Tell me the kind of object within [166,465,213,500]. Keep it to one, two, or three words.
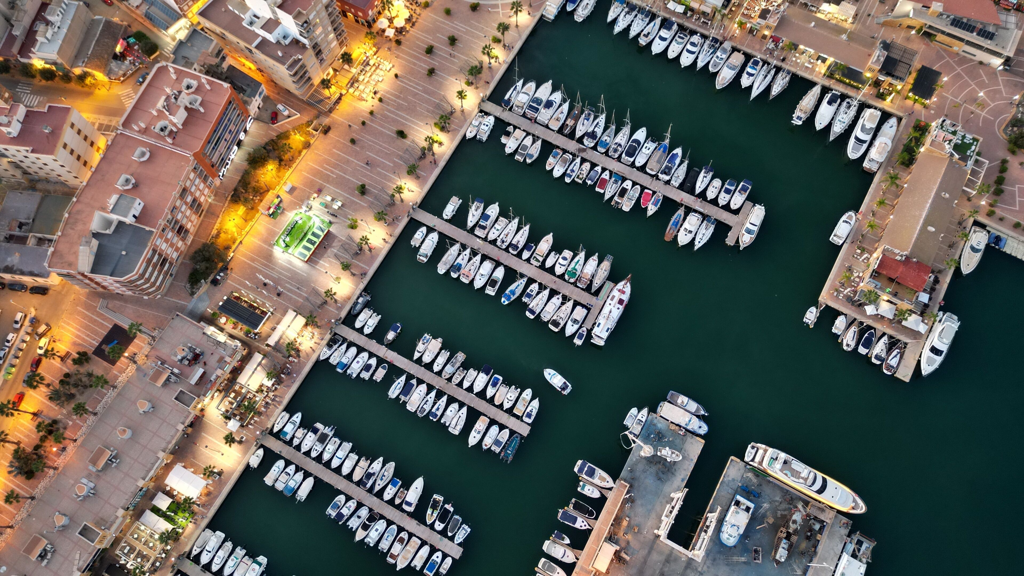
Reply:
tent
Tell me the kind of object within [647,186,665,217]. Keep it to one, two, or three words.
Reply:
boat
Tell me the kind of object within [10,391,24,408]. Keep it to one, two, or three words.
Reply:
car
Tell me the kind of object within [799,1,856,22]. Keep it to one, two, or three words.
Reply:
building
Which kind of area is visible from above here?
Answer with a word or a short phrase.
port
